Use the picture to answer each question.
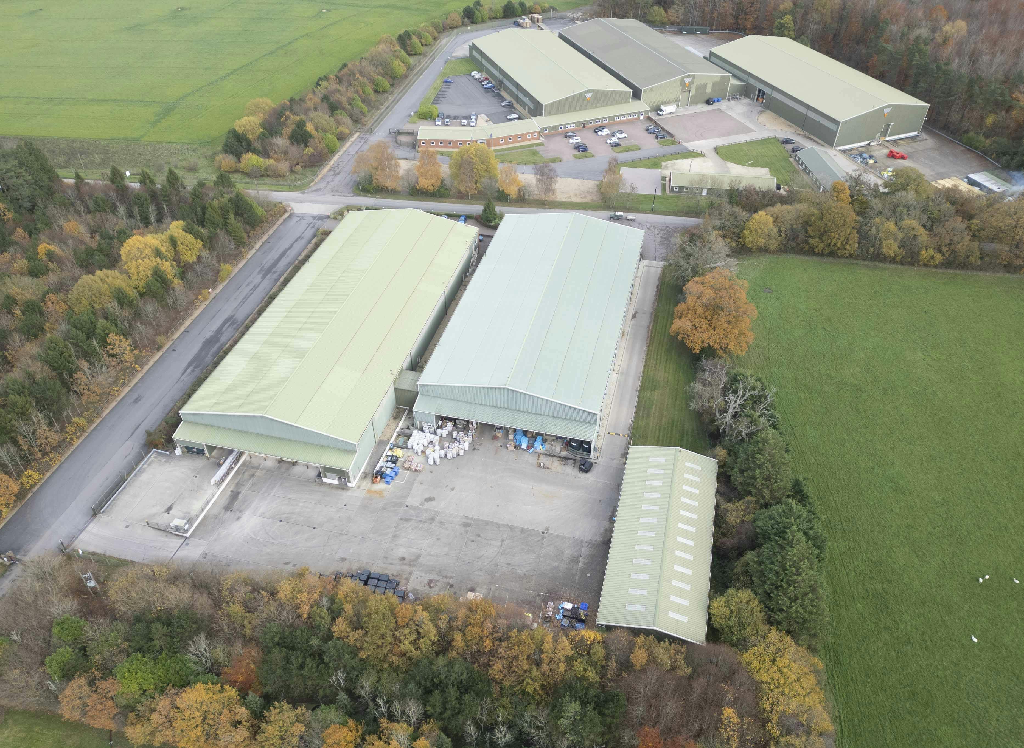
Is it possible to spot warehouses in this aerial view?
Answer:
Yes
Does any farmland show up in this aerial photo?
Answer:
Yes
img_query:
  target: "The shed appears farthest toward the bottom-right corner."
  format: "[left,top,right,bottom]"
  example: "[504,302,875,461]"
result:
[595,445,719,658]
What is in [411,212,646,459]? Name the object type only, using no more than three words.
warehouse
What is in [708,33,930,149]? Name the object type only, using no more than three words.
warehouse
